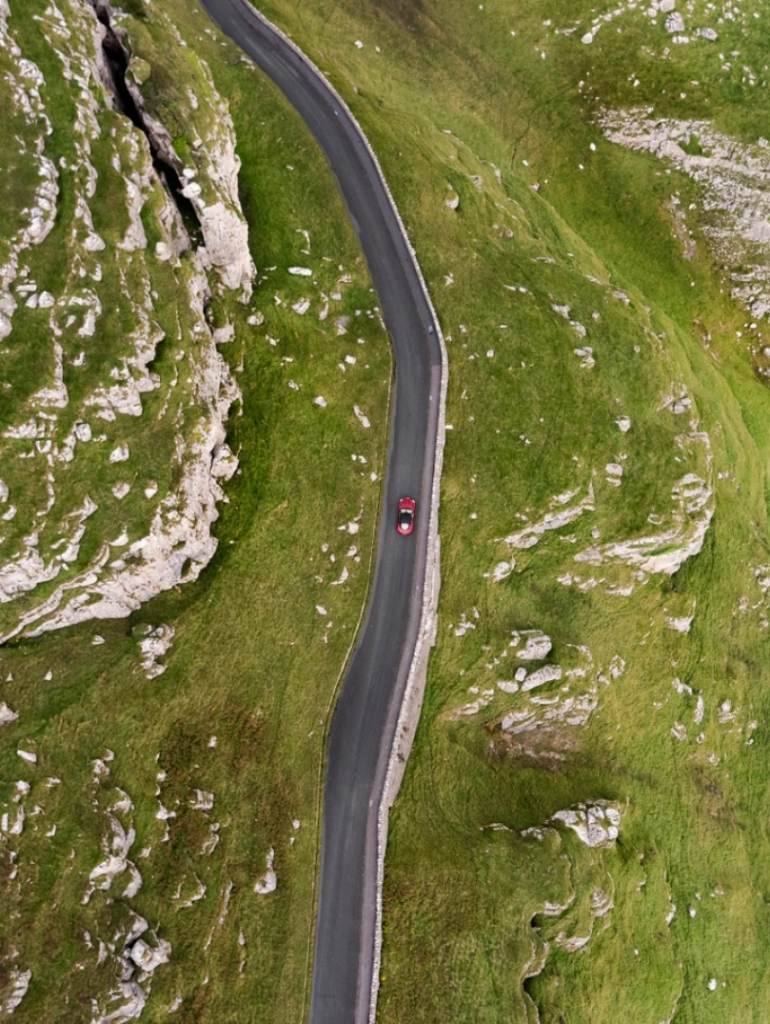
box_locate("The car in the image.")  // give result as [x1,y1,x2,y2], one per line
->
[397,496,416,536]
